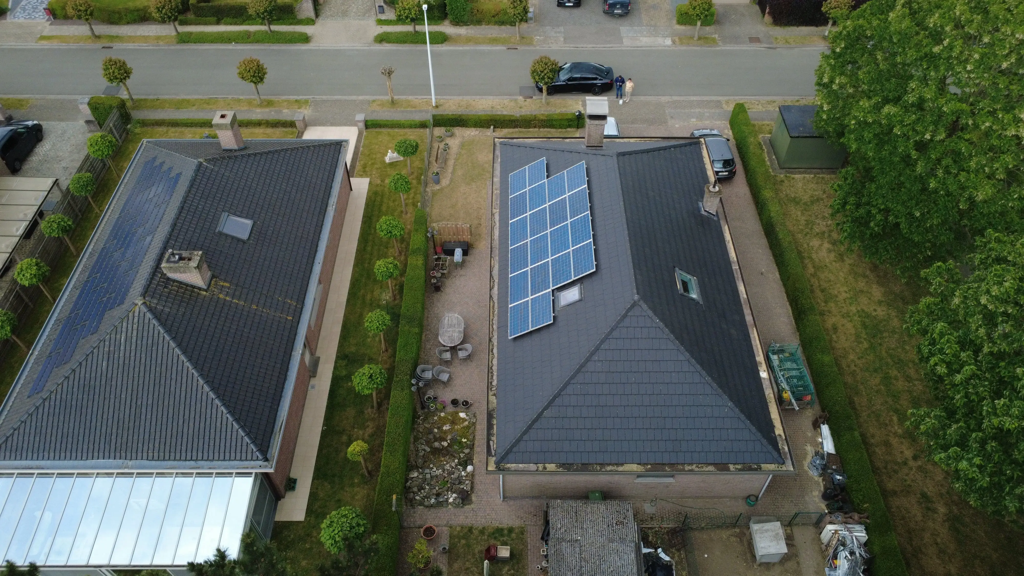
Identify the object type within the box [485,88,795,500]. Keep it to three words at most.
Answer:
house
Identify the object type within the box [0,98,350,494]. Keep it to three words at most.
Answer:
house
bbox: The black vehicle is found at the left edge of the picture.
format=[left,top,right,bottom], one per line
[0,124,42,173]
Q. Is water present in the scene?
No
